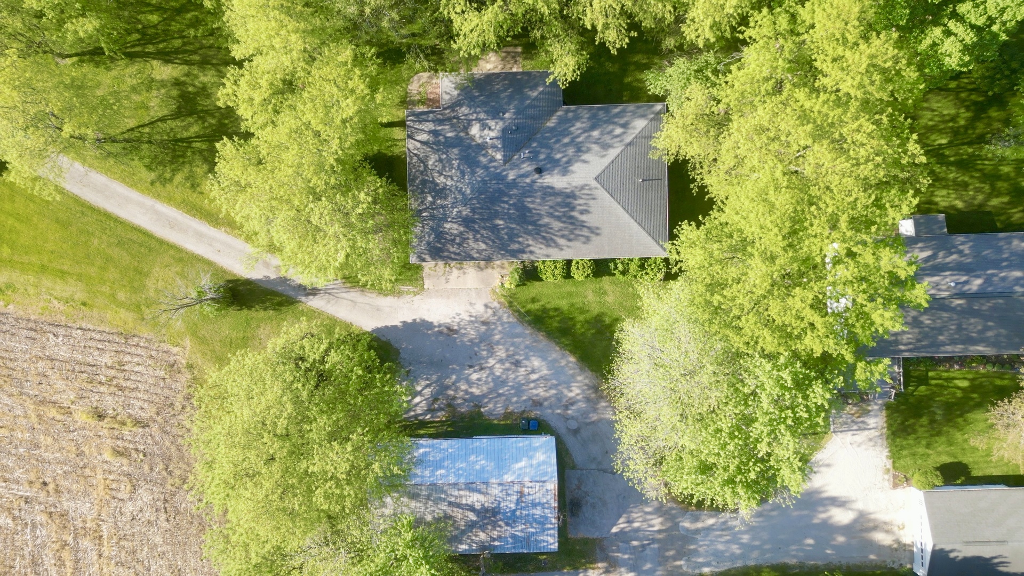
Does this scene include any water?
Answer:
No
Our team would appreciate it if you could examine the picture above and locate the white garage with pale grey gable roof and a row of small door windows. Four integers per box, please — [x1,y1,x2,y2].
[912,483,1024,576]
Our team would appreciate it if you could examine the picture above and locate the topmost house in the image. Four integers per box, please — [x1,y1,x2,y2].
[405,69,670,264]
